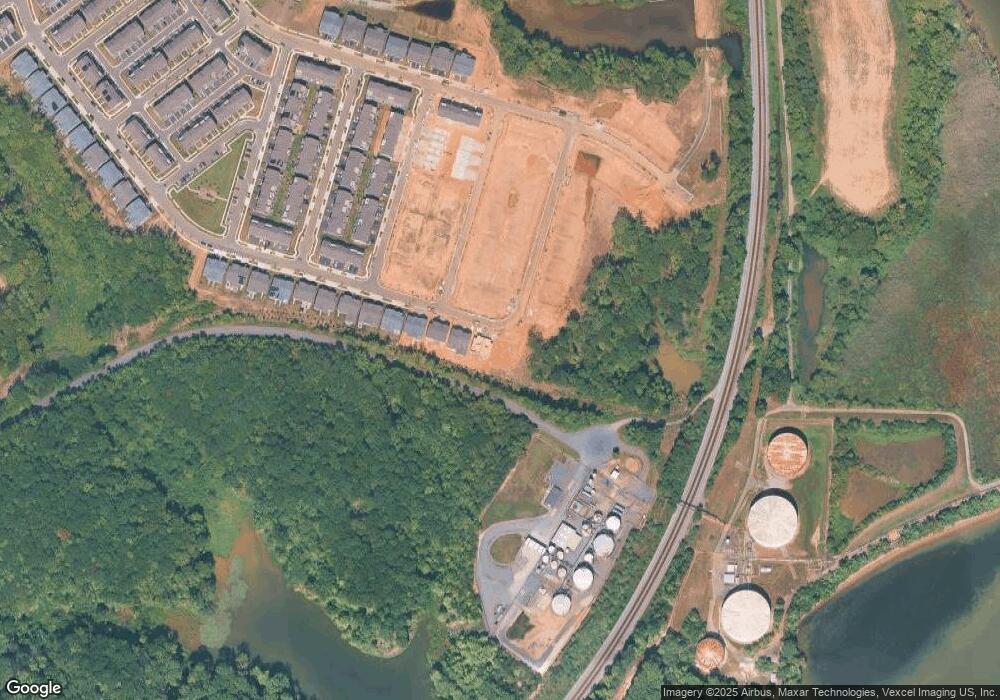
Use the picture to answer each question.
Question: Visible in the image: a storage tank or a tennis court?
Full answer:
Looking from above, you can make out a storage tank.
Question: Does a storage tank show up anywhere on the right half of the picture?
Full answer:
Yes, a storage tank is visible on the right half of the picture.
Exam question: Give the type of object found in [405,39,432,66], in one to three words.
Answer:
house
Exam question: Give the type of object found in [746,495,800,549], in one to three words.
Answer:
storage tank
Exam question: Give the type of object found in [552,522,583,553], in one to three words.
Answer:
building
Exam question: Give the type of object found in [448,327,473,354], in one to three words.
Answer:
house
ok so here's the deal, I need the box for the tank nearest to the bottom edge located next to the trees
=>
[695,639,726,672]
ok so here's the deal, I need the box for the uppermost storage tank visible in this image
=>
[767,435,809,476]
